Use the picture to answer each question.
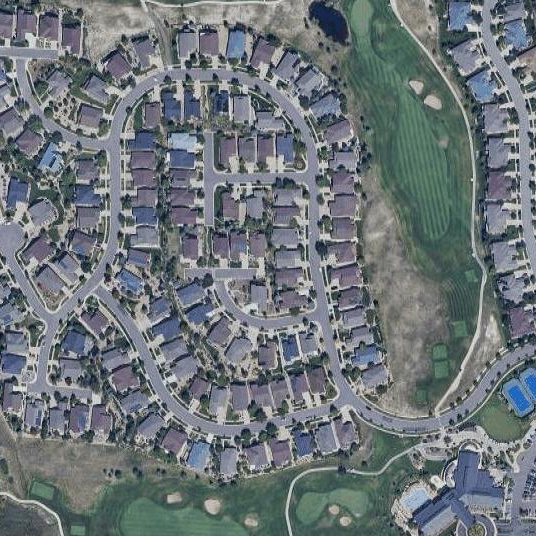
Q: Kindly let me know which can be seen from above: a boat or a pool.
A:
pool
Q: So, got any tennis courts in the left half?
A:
No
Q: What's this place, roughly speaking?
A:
residential area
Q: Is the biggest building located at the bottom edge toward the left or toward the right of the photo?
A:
right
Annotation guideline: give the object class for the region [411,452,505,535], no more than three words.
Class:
building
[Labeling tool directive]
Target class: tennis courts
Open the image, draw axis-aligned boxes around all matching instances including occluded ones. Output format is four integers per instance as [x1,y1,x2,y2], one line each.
[519,368,536,404]
[503,380,533,417]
